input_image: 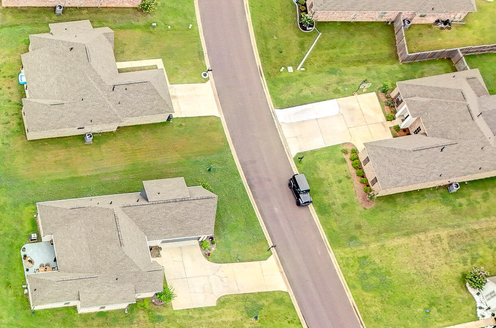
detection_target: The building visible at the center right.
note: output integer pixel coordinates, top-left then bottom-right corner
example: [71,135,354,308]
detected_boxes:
[357,67,496,196]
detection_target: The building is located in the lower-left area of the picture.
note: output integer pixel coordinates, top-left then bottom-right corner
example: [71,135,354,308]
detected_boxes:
[26,174,216,314]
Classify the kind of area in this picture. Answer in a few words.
residential area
